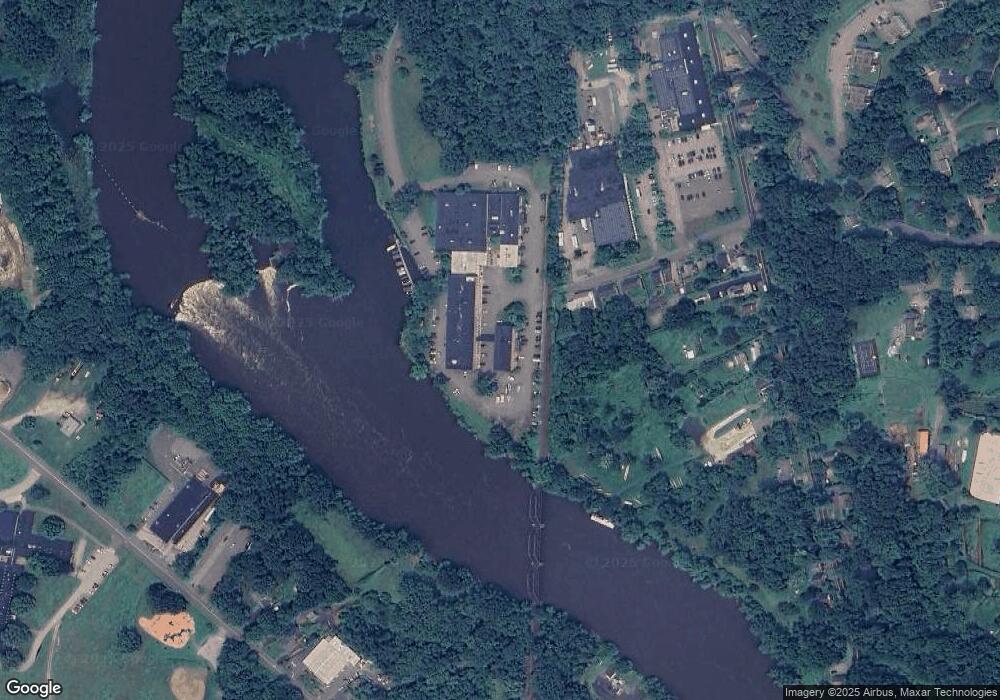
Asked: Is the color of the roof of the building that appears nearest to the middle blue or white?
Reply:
blue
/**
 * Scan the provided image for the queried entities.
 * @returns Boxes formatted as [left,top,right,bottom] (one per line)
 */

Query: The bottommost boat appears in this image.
[590,515,614,528]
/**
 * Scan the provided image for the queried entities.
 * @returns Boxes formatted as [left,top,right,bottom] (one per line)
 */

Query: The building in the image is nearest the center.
[494,323,517,370]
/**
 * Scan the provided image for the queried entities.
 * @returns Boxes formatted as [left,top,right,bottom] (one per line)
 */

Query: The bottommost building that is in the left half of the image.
[304,636,362,683]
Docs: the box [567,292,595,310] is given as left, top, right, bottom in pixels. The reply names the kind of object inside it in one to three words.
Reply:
house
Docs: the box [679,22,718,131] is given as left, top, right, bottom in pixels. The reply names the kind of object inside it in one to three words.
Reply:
building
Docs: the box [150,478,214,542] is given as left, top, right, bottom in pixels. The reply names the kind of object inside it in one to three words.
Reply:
building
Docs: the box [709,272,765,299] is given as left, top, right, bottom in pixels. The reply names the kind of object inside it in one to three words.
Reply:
house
